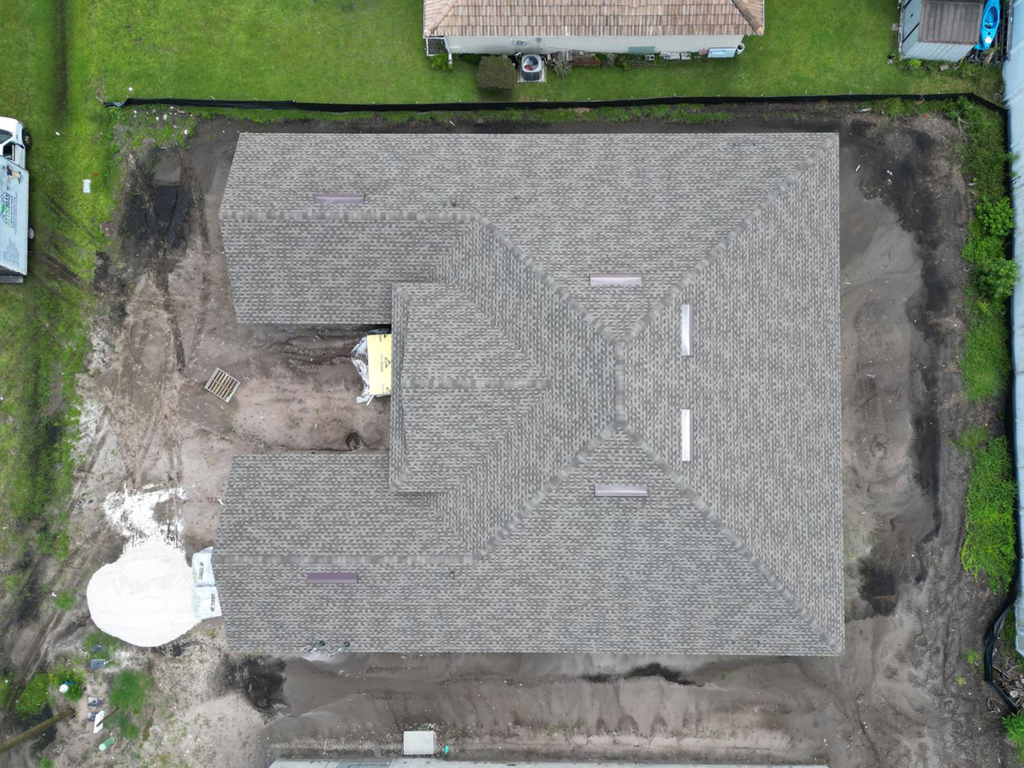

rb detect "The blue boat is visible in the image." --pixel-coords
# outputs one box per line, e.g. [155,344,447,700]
[982,0,1005,49]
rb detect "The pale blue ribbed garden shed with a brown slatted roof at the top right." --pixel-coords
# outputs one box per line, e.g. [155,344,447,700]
[902,0,983,62]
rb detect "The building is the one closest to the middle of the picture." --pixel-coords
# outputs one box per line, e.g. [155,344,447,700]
[212,132,845,655]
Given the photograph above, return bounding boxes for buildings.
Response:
[902,0,983,62]
[212,132,845,655]
[421,0,768,62]
[272,758,828,768]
